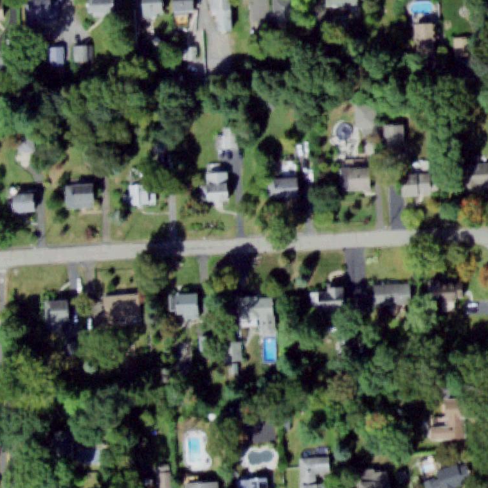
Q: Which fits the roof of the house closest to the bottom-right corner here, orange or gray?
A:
gray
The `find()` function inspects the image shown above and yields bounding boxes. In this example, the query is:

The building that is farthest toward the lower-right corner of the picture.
[422,468,468,488]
